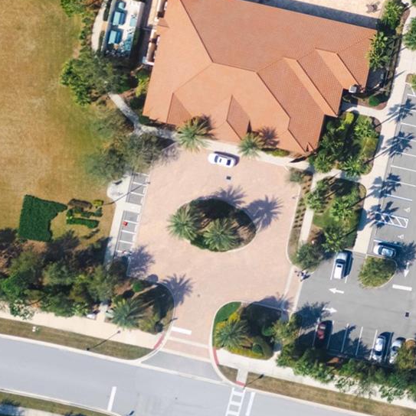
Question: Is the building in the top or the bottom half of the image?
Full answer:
The top half of the photo is where the building is.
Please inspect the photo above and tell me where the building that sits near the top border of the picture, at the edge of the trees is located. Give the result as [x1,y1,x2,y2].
[142,0,378,158]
